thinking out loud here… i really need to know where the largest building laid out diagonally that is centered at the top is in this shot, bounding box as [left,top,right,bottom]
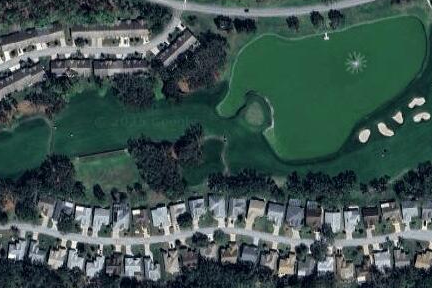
[157,32,199,64]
